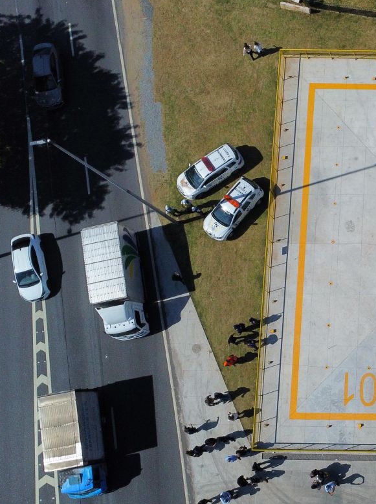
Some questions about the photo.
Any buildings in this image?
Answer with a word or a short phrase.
No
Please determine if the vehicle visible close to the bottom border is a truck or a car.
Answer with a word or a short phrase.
truck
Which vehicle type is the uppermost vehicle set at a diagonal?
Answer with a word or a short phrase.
automobile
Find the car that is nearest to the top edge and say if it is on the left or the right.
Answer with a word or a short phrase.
left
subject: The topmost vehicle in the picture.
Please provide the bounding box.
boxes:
[29,43,69,112]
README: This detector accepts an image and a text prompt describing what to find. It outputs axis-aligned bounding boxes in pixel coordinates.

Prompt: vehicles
[7,232,54,304]
[204,175,265,242]
[81,222,154,345]
[178,141,244,201]
[29,43,69,112]
[36,388,114,499]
